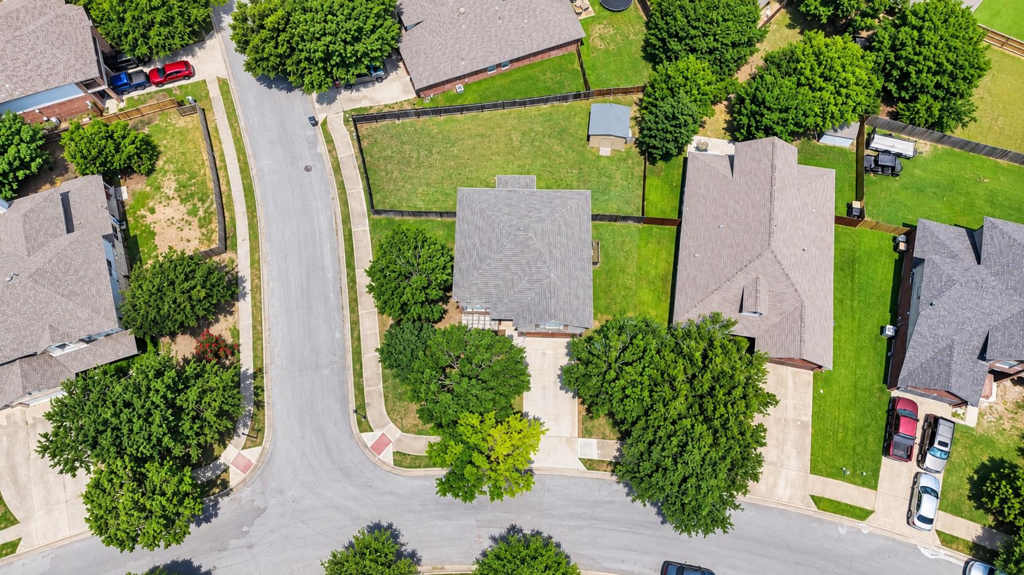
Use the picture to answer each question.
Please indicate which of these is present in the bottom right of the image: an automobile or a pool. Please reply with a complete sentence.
What appears in the bottom right of the image is an automobile.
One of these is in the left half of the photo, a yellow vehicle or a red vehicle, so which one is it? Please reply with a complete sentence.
There is a red vehicle in the left half of the photo.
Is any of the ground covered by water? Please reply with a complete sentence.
No, water can't be seen anywhere here.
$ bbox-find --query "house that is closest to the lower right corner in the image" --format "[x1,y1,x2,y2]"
[889,216,1024,407]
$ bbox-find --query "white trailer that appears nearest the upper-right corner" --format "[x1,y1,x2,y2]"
[871,126,925,158]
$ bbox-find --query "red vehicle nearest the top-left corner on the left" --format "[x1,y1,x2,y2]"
[149,57,196,87]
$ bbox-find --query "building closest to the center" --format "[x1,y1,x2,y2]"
[451,175,593,336]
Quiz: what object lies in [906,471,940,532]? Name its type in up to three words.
car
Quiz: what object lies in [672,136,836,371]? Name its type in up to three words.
house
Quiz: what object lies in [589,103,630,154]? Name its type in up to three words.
shed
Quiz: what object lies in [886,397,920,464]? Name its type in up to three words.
truck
